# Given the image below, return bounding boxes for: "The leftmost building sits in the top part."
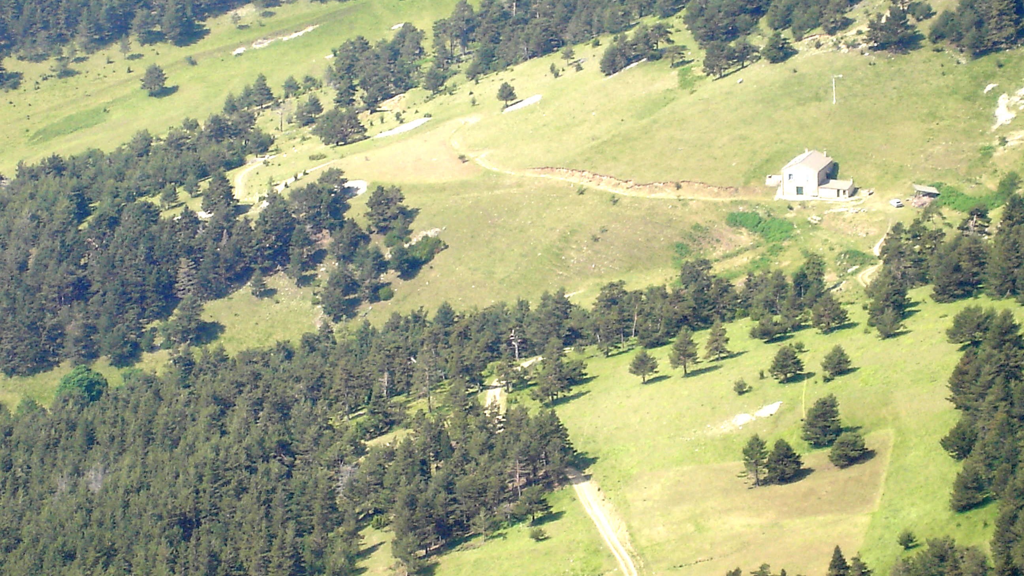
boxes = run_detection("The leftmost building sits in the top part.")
[770,148,855,203]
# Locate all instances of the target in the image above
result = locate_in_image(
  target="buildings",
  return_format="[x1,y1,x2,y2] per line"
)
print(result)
[915,183,947,202]
[770,148,855,203]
